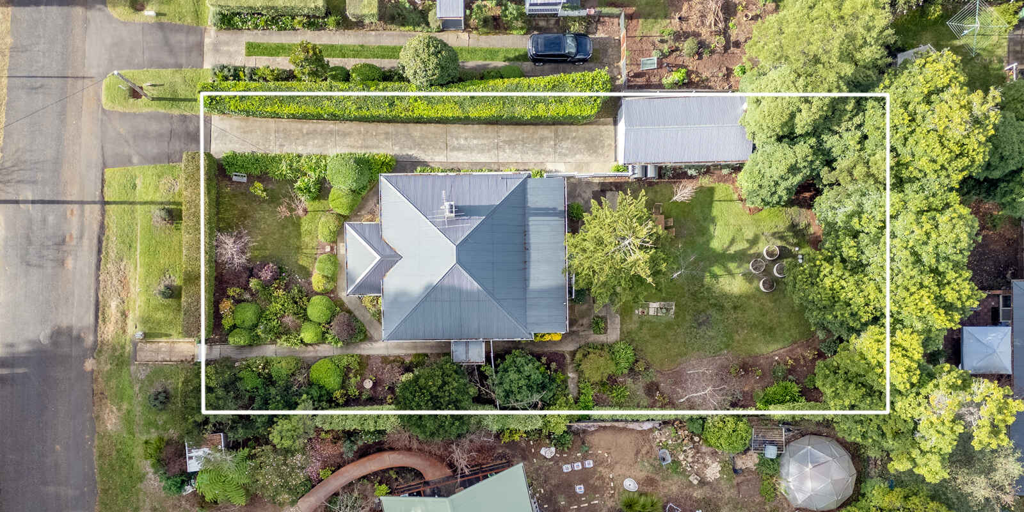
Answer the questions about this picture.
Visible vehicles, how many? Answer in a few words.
1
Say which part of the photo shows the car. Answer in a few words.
top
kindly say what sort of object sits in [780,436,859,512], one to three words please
greenhouse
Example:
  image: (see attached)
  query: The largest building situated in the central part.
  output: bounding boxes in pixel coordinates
[344,171,568,364]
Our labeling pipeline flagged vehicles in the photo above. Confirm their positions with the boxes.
[529,32,593,67]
